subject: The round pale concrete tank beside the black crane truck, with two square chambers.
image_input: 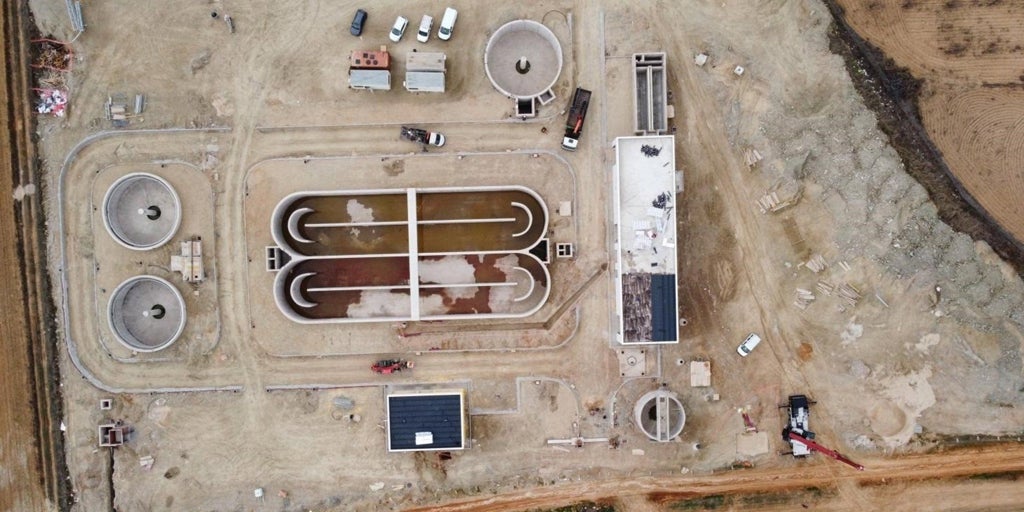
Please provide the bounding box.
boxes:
[484,20,563,98]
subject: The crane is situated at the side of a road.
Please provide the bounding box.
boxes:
[775,393,865,470]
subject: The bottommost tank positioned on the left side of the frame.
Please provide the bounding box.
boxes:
[108,275,187,353]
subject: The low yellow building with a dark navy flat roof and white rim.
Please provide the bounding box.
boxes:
[388,388,467,452]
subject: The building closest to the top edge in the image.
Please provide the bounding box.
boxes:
[611,135,681,344]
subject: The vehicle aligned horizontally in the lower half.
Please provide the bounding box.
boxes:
[373,358,411,375]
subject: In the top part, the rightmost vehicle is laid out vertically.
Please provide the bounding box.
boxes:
[560,87,592,154]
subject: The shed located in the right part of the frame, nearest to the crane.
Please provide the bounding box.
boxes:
[688,359,711,387]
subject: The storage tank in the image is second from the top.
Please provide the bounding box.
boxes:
[103,172,183,250]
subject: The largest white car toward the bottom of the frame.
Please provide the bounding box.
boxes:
[736,331,762,357]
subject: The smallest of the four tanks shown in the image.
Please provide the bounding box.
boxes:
[636,391,685,441]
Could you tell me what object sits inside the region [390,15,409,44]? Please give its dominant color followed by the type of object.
white car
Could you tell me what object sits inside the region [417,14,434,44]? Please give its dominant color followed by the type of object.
white car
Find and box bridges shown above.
[407,187,419,322]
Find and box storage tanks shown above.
[636,391,685,441]
[484,20,563,98]
[103,172,183,250]
[108,275,187,353]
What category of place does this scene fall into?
industrial area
